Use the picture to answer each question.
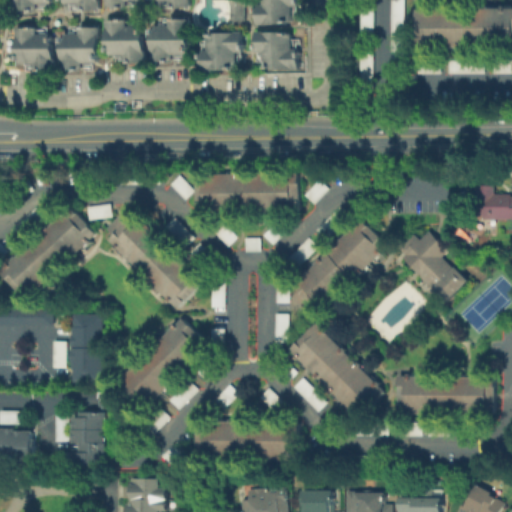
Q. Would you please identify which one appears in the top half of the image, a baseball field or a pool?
pool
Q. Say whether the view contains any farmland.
No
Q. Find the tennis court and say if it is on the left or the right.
right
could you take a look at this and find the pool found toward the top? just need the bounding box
[194,0,230,28]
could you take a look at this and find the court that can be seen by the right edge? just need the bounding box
[454,266,512,345]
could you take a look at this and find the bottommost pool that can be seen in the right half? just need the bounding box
[371,282,426,342]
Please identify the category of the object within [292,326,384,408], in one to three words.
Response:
building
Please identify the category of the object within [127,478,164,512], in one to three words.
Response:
house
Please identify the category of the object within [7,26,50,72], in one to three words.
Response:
house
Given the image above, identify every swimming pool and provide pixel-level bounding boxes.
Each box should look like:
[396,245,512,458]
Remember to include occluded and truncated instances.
[194,0,230,28]
[371,282,426,342]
